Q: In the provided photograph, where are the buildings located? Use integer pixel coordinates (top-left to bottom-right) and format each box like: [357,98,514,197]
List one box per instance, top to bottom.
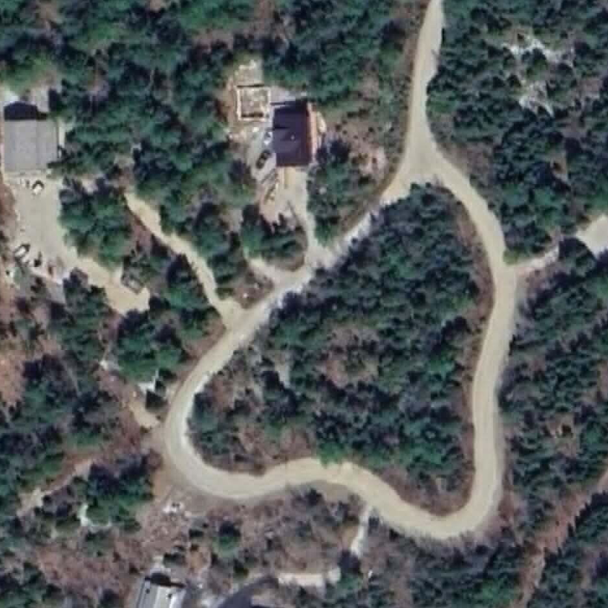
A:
[275,106,321,166]
[4,119,59,168]
[139,579,186,608]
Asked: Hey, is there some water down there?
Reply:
No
